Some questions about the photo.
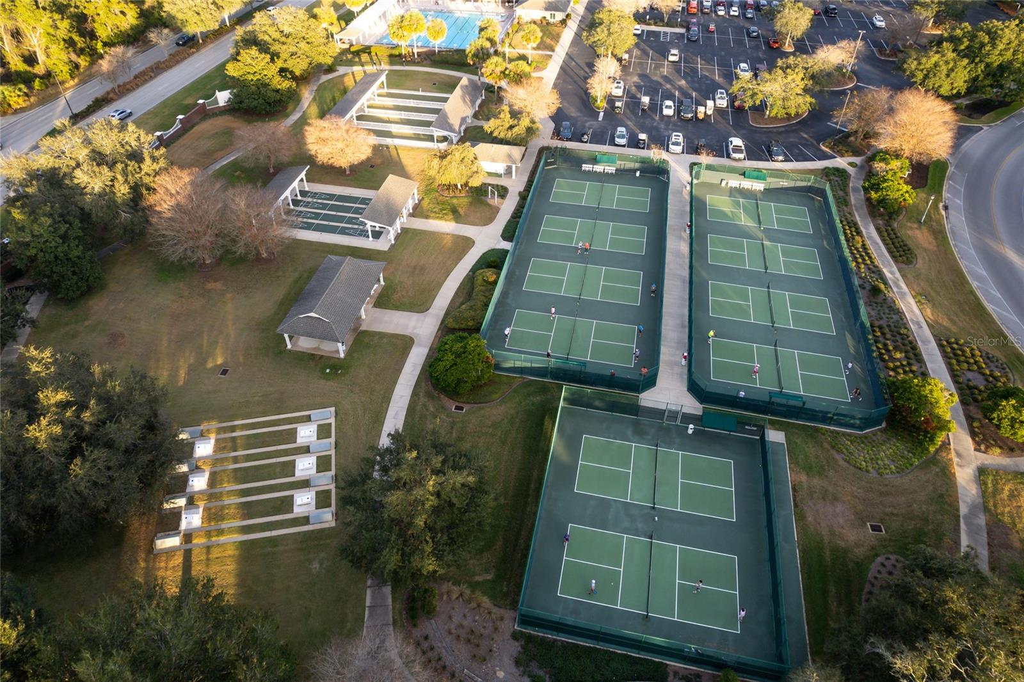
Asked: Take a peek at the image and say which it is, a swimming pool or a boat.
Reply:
swimming pool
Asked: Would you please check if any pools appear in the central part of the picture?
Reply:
No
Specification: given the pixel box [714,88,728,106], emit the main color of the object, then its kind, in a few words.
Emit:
white car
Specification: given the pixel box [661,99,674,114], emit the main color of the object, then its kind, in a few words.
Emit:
white vehicle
